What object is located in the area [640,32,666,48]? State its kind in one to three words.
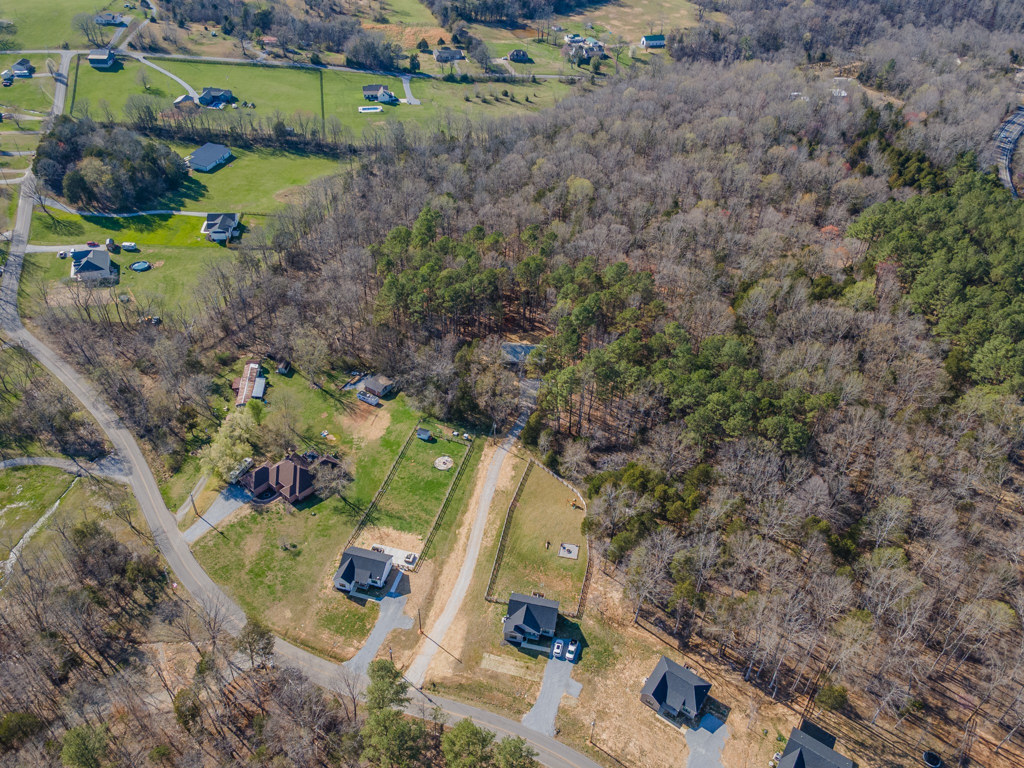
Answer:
barn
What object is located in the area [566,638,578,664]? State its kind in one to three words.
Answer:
vehicle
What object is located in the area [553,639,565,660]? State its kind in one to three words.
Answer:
vehicle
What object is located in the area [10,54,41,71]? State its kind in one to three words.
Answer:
house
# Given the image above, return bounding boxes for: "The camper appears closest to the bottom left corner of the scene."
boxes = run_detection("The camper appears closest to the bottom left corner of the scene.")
[218,457,259,488]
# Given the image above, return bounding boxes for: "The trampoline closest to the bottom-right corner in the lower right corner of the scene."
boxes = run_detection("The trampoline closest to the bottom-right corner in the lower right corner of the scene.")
[921,746,946,768]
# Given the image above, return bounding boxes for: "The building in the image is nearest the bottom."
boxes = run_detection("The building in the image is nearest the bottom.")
[773,719,853,768]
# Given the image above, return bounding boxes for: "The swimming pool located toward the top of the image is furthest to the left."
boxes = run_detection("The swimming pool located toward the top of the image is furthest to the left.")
[129,261,150,273]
